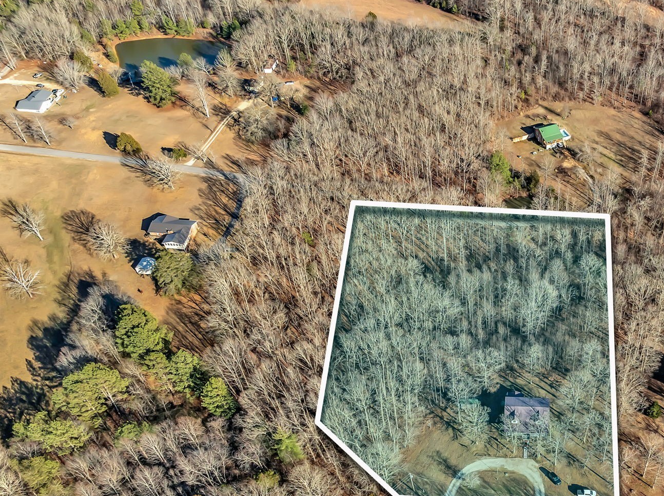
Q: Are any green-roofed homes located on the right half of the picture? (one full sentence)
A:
Yes, I can see a green-roofed home on the right half of the picture.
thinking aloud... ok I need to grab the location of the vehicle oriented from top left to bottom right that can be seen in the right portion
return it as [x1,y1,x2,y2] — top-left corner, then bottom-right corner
[546,470,561,487]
